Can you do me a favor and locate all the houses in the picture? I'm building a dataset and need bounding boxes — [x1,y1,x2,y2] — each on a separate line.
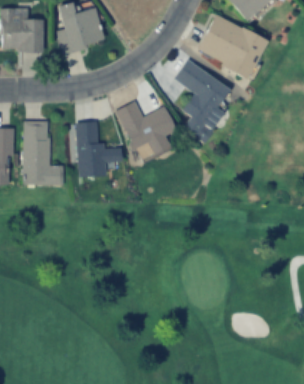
[0,6,44,52]
[197,16,268,76]
[176,58,232,140]
[77,119,122,176]
[0,128,14,184]
[116,100,178,160]
[231,0,271,20]
[24,120,64,186]
[56,1,104,53]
